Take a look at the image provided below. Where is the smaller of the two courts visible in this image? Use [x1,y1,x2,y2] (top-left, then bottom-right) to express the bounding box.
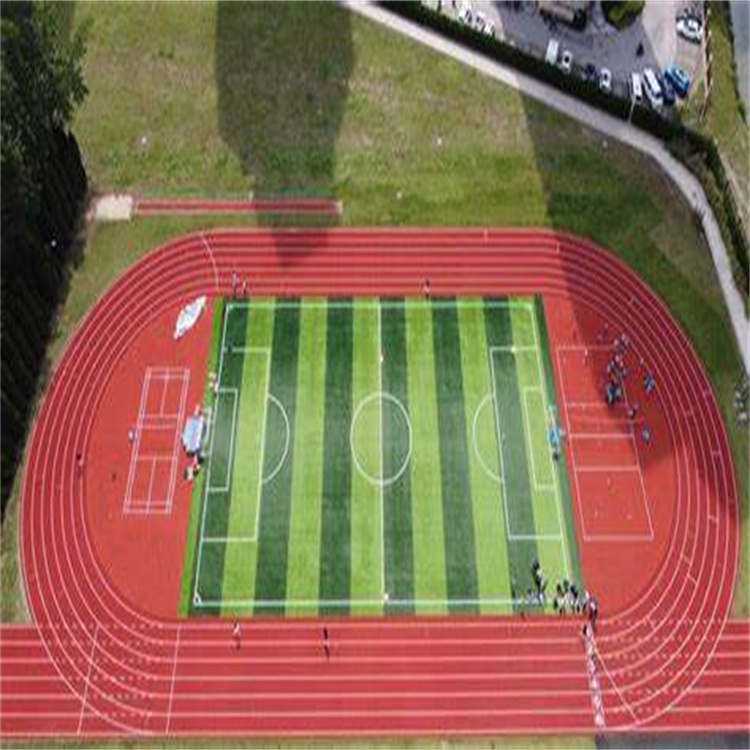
[122,366,191,515]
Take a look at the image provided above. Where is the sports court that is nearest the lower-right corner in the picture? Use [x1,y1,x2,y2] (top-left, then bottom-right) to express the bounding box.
[555,344,655,541]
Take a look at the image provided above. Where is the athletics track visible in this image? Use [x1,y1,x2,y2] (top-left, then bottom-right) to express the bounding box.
[0,226,750,741]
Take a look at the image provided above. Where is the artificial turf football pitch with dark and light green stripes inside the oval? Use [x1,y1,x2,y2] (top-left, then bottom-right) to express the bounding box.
[176,295,584,615]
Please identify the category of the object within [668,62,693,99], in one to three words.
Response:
vehicle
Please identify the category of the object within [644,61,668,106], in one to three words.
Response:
bus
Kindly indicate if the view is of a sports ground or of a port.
sports ground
